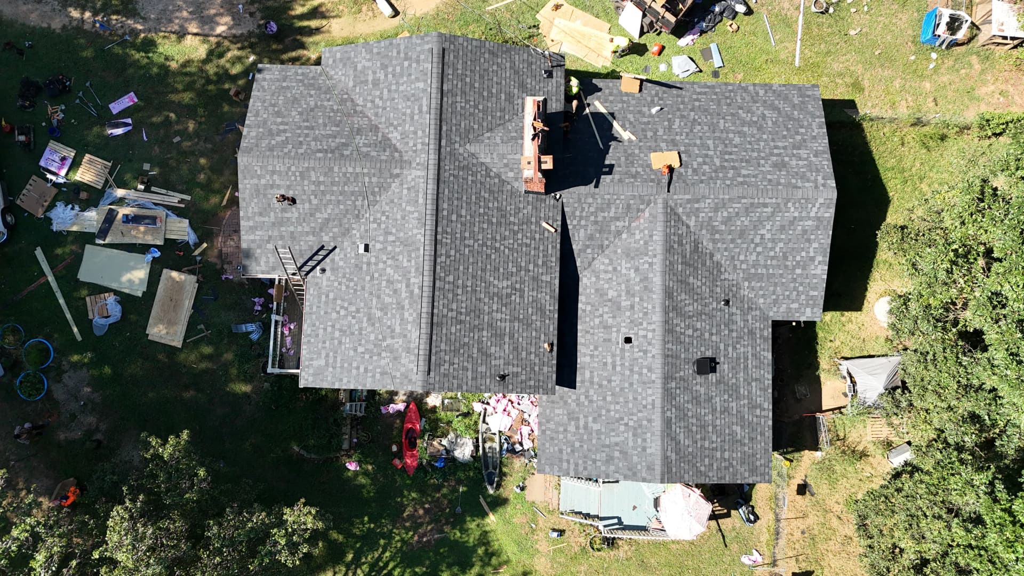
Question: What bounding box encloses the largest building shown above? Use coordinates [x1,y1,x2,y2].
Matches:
[238,31,837,485]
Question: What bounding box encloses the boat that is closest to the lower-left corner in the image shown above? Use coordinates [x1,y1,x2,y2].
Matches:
[401,404,421,475]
